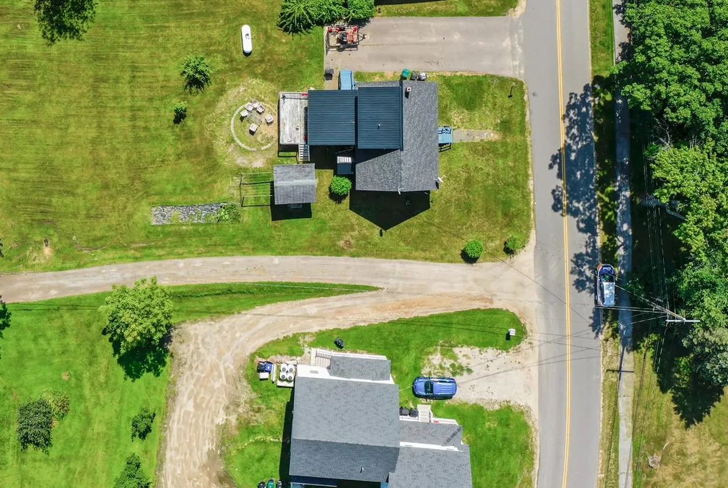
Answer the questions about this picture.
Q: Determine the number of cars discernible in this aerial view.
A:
2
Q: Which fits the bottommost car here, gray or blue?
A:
blue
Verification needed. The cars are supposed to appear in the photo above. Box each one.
[593,263,618,308]
[411,377,457,401]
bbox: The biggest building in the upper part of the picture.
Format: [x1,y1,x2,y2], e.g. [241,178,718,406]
[307,80,439,193]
